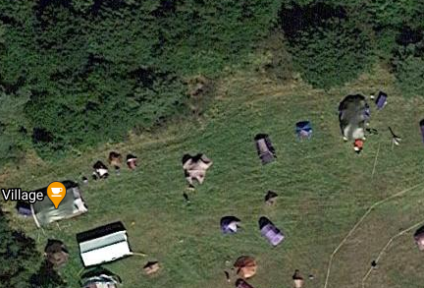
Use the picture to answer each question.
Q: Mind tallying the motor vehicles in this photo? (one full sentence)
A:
The count of motor vehicles is 0.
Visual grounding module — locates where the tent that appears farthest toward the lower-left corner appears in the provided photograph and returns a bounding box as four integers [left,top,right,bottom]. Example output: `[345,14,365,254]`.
[42,243,68,265]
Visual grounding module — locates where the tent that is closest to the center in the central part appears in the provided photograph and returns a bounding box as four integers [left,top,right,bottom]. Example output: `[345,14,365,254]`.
[181,155,212,183]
